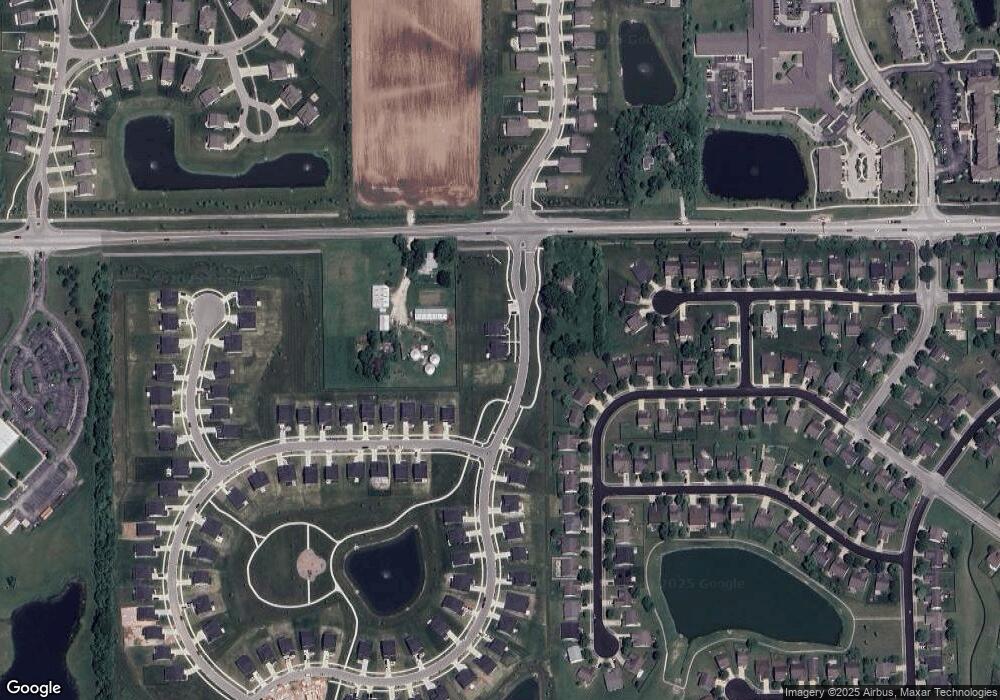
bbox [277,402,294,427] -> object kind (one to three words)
house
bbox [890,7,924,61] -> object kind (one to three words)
building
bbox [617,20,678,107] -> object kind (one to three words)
pond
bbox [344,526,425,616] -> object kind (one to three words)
pond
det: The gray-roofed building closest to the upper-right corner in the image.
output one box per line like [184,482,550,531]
[933,0,967,51]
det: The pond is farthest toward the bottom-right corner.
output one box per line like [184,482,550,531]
[659,547,844,645]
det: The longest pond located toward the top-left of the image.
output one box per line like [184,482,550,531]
[123,113,331,191]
